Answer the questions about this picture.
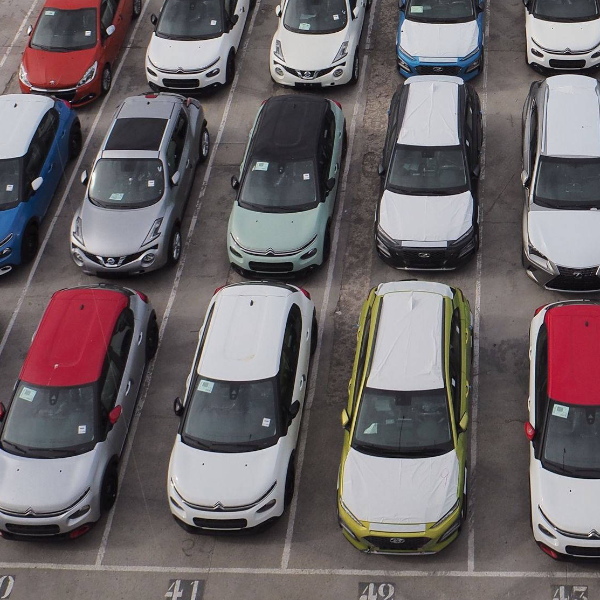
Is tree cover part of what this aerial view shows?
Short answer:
No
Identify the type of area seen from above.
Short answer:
parking lot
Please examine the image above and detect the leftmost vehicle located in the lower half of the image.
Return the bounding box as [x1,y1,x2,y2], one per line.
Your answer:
[0,279,159,538]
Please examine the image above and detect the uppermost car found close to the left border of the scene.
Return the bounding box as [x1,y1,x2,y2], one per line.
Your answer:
[21,0,143,103]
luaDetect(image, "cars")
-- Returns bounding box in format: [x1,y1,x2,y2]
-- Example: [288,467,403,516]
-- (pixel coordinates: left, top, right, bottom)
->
[273,0,370,92]
[374,76,482,273]
[336,281,473,559]
[0,91,86,274]
[0,279,159,538]
[73,99,211,280]
[21,0,143,103]
[146,0,256,92]
[520,79,600,293]
[228,92,347,277]
[524,295,600,561]
[522,0,600,74]
[397,0,485,84]
[169,275,318,533]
